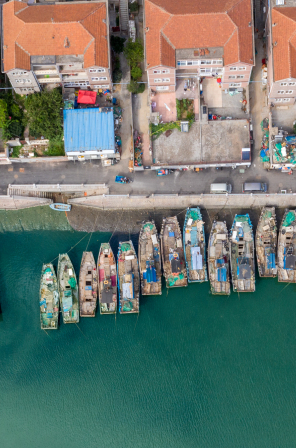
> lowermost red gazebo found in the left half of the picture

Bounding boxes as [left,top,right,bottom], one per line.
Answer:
[79,92,98,108]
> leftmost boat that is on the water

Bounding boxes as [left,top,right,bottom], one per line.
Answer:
[38,263,58,330]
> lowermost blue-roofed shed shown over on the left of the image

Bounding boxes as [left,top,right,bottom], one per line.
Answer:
[64,107,114,157]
